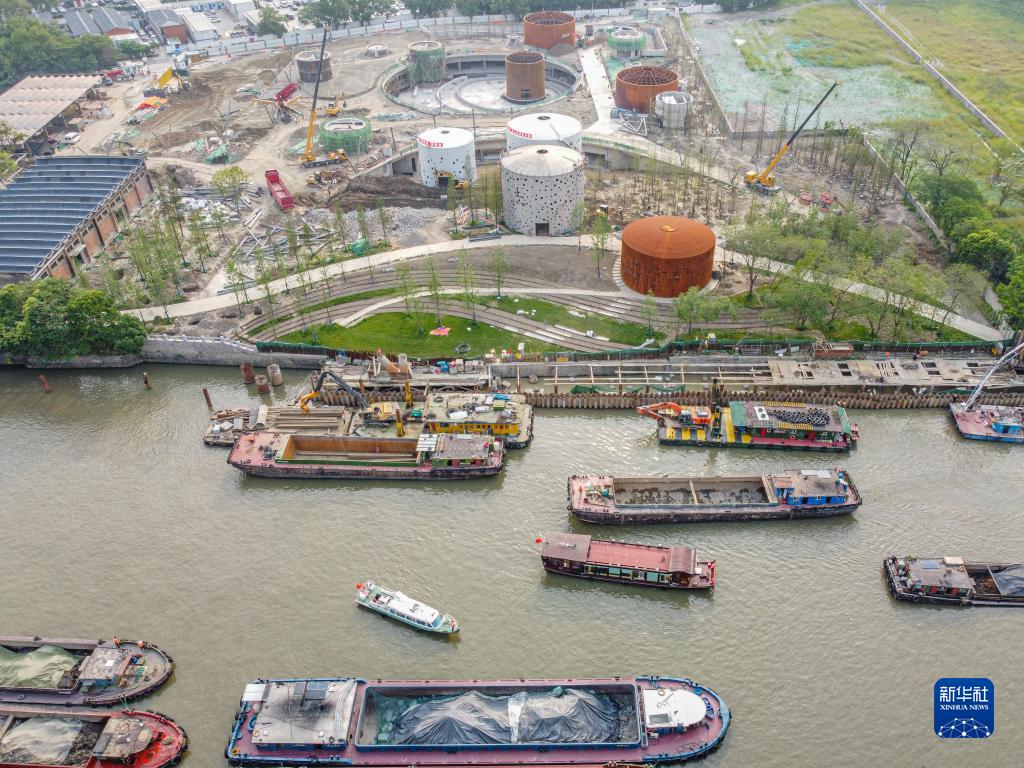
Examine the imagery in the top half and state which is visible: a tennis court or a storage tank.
storage tank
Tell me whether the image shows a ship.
Yes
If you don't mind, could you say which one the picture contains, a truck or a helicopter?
truck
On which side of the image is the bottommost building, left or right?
left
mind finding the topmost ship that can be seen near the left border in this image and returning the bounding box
[0,637,178,710]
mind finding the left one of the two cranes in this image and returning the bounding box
[300,26,353,171]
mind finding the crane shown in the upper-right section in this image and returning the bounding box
[737,81,841,196]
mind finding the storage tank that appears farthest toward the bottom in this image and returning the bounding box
[618,214,717,296]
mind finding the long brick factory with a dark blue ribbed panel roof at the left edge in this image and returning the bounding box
[0,153,154,289]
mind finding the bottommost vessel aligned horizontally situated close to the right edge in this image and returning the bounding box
[881,552,1024,605]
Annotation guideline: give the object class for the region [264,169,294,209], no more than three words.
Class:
truck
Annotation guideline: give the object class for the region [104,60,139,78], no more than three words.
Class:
vehicle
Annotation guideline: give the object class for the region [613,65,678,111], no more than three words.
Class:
storage tank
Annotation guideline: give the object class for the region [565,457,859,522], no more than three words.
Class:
ship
